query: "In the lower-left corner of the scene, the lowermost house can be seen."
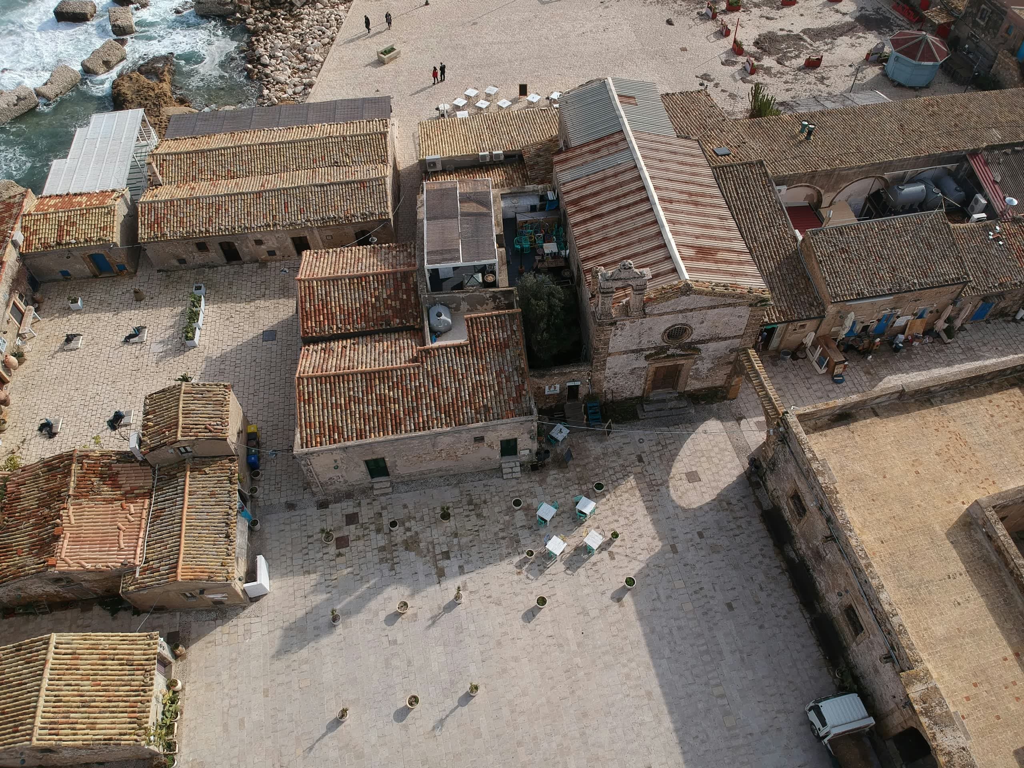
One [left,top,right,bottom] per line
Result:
[0,630,172,761]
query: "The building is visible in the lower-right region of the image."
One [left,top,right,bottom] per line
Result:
[740,355,1024,768]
